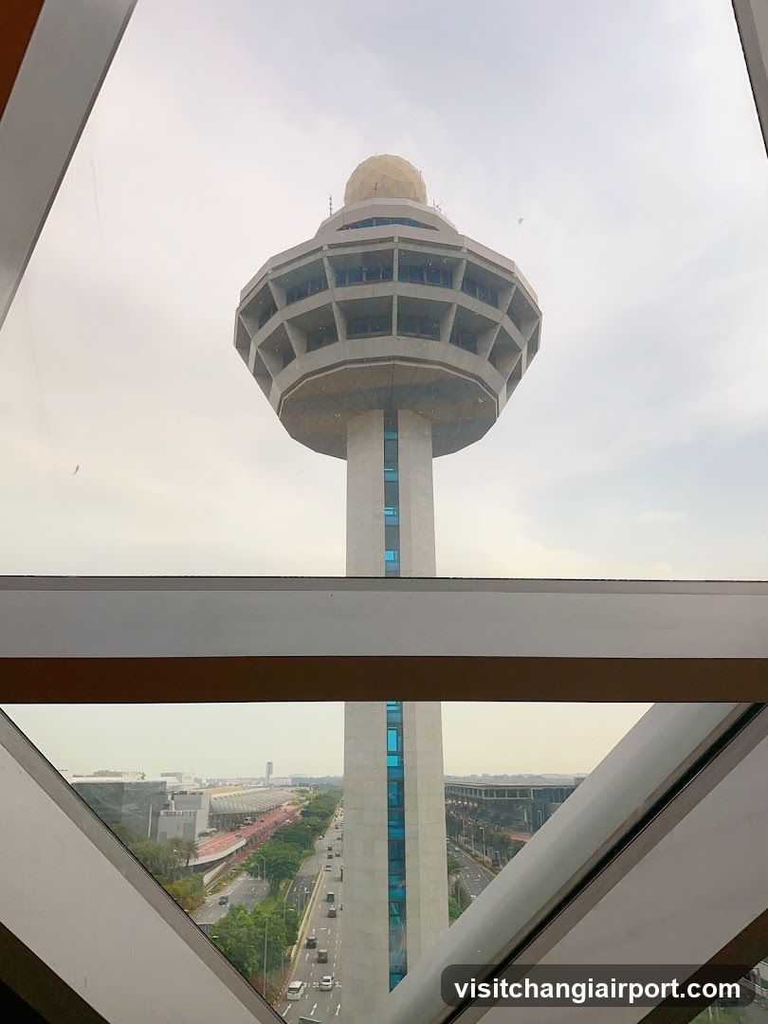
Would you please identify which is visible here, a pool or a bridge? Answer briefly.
bridge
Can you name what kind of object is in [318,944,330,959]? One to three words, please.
vehicle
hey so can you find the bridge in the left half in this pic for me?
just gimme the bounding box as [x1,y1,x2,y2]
[184,801,315,883]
